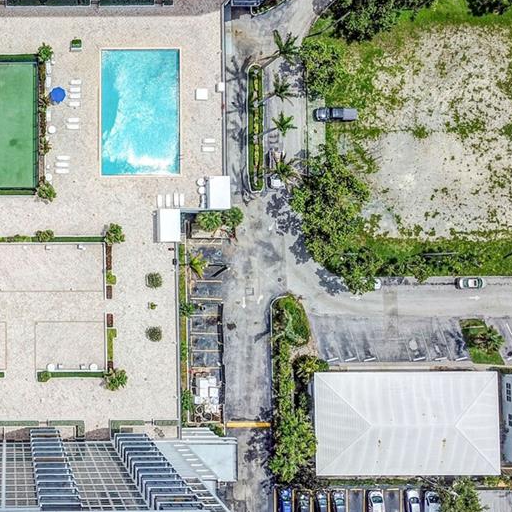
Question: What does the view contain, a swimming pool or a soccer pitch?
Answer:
swimming pool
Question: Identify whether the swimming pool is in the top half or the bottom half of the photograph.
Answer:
top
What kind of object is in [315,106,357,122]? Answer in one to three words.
vehicle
